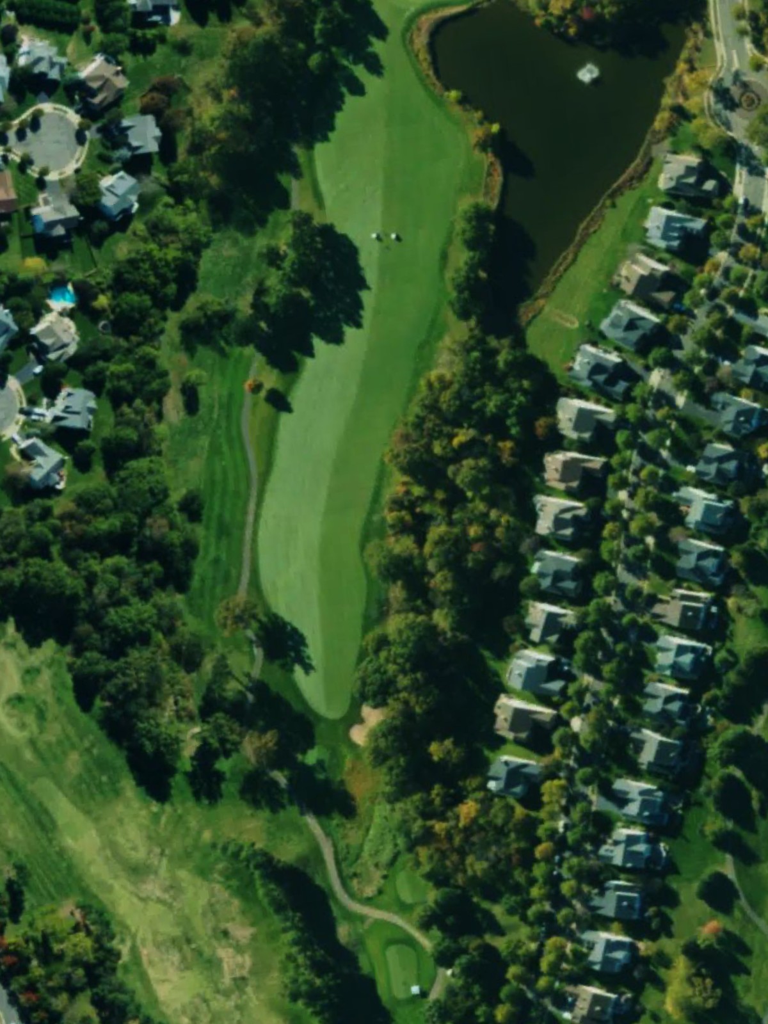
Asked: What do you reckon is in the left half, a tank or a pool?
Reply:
pool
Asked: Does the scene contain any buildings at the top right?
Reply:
Yes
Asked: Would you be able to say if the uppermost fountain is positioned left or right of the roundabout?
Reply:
to its left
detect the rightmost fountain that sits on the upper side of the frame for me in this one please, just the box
[576,62,599,83]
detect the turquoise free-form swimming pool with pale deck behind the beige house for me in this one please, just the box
[47,281,77,311]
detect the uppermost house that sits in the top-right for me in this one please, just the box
[647,150,720,201]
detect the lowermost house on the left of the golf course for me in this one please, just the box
[14,438,79,487]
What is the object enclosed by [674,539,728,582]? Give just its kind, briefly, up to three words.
house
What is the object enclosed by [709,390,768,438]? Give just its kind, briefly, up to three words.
house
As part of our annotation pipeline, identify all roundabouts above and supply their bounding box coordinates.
[723,71,768,135]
